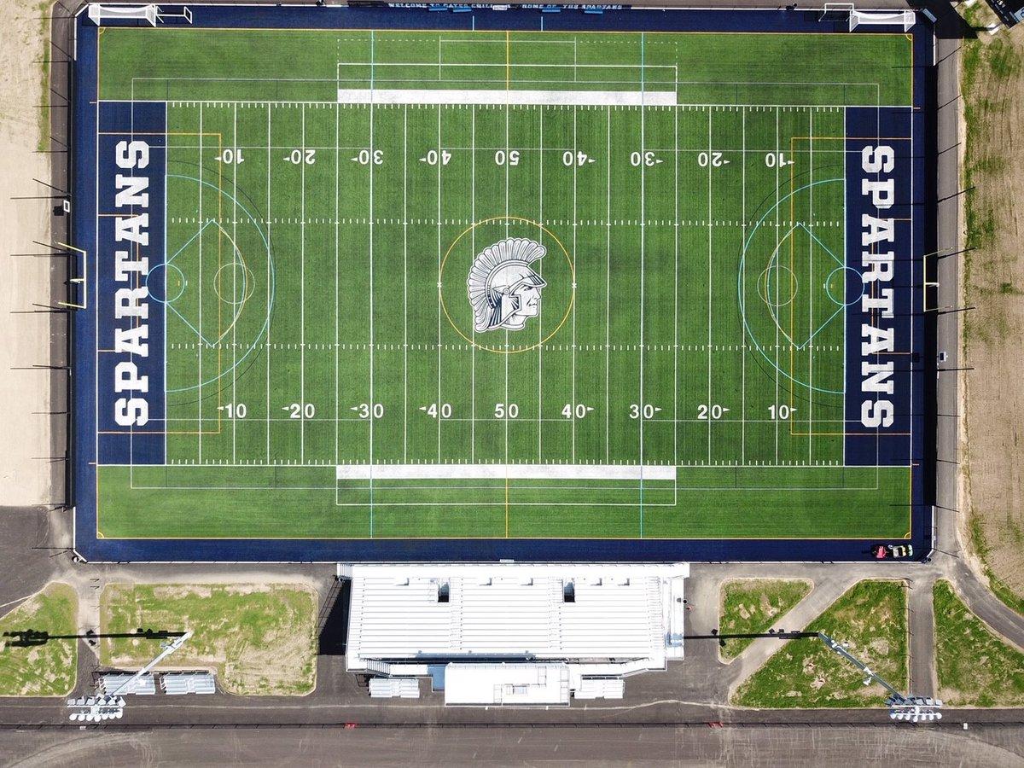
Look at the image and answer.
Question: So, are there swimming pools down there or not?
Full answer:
No, the picture doesn't show any swimming pool.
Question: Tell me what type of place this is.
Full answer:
This looks like a sports ground.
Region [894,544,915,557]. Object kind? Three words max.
vehicle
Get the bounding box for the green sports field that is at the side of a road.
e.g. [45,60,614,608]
[74,4,933,562]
